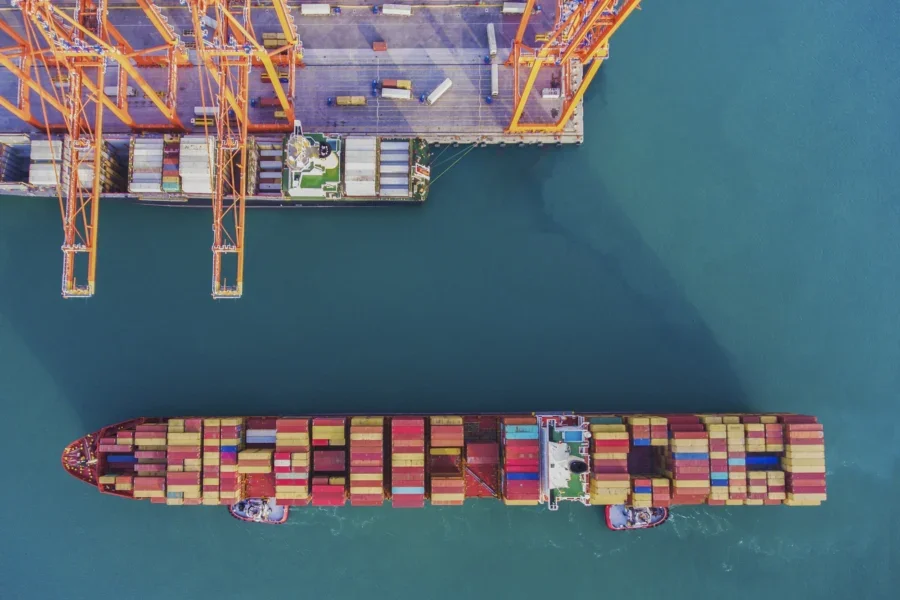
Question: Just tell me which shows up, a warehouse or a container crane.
container crane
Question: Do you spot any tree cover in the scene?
No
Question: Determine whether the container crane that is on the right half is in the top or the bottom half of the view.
top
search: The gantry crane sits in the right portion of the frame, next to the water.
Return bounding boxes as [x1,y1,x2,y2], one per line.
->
[502,0,636,134]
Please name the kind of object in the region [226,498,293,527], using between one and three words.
boat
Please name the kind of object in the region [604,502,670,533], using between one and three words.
boat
